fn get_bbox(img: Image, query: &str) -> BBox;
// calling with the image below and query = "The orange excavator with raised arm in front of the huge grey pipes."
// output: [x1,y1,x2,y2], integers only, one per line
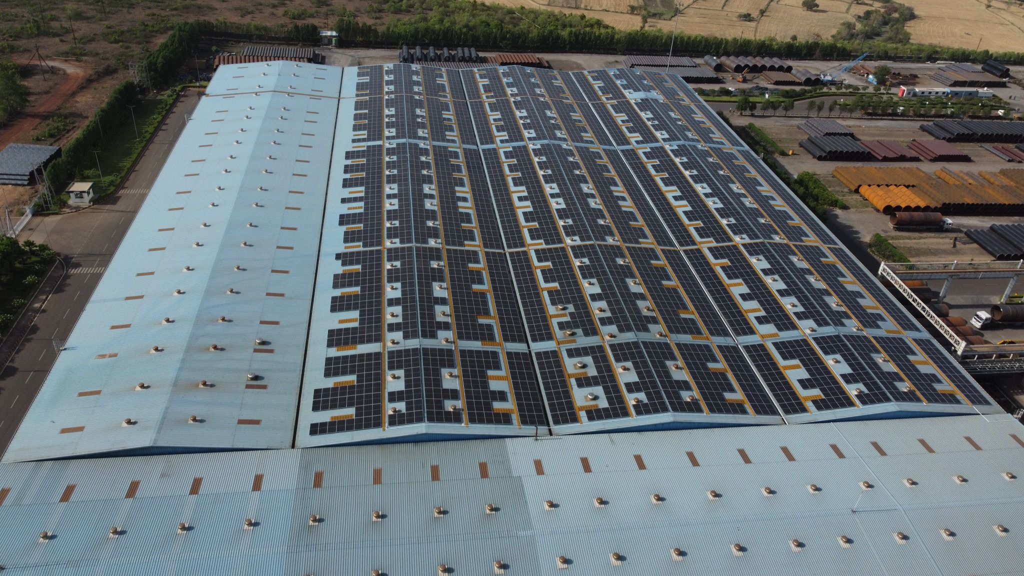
[738,64,754,83]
